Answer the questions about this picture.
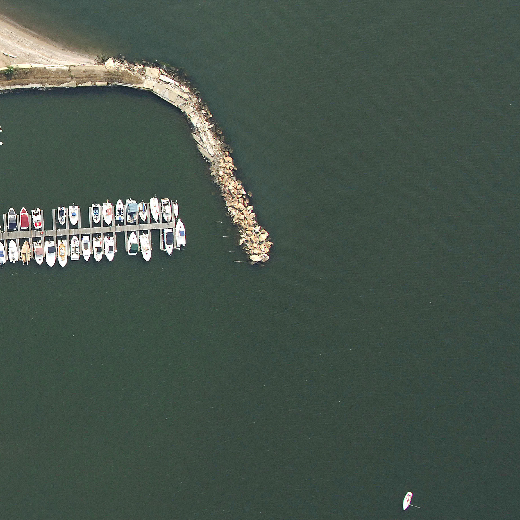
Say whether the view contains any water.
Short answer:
Yes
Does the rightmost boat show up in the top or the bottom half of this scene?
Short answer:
bottom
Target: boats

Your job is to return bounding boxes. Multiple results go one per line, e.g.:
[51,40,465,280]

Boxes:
[126,197,137,223]
[138,201,147,222]
[45,239,56,267]
[19,207,28,229]
[103,201,113,226]
[175,218,185,249]
[58,237,68,267]
[402,492,425,515]
[139,233,151,261]
[151,198,161,223]
[172,201,179,217]
[32,207,42,229]
[70,235,80,260]
[57,205,65,226]
[82,236,90,262]
[7,207,17,232]
[104,235,114,261]
[20,241,31,264]
[93,235,102,262]
[69,203,78,226]
[164,229,175,256]
[0,242,6,266]
[8,240,18,265]
[33,239,43,265]
[160,198,172,224]
[91,202,100,223]
[115,199,123,223]
[128,232,138,255]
